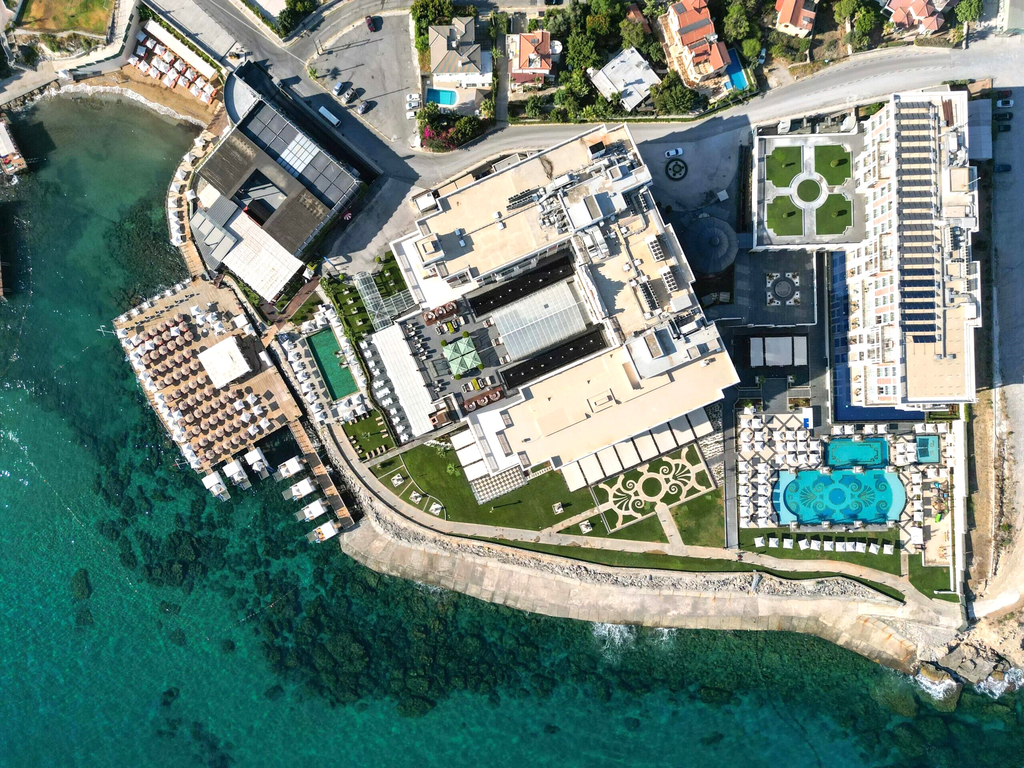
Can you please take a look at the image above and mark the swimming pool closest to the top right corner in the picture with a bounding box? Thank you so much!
[725,47,750,92]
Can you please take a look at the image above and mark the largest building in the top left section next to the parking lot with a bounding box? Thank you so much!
[189,61,367,303]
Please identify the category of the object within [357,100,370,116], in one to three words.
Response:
vehicle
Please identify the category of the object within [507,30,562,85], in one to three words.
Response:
house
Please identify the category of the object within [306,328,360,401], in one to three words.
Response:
swimming pool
